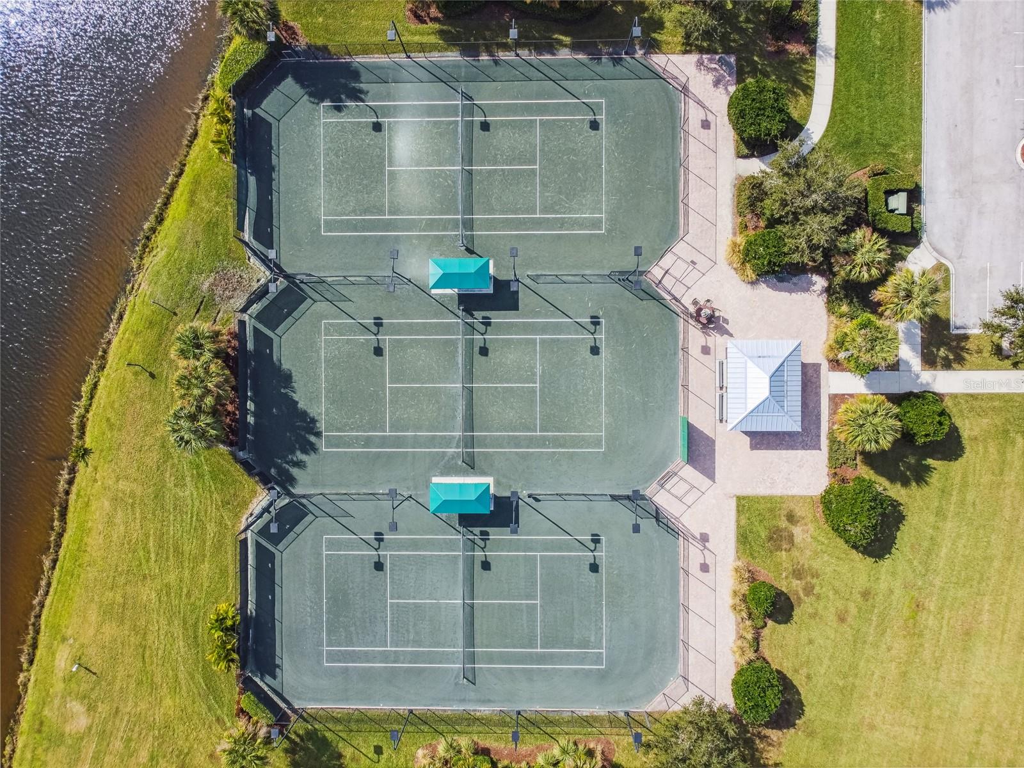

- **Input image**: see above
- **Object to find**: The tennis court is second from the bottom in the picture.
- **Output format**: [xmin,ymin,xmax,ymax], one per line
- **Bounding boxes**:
[247,275,682,493]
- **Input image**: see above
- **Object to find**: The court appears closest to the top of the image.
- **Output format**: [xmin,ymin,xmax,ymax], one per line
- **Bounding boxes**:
[244,53,682,278]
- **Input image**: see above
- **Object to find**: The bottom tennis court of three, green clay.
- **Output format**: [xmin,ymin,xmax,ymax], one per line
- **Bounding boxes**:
[249,492,682,713]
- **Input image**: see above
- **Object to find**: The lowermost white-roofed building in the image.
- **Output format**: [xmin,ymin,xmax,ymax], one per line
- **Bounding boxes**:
[722,340,802,432]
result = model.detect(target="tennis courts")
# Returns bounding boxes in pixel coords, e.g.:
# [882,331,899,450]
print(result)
[244,53,682,278]
[249,492,682,713]
[247,275,682,493]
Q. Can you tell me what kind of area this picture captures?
sports ground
